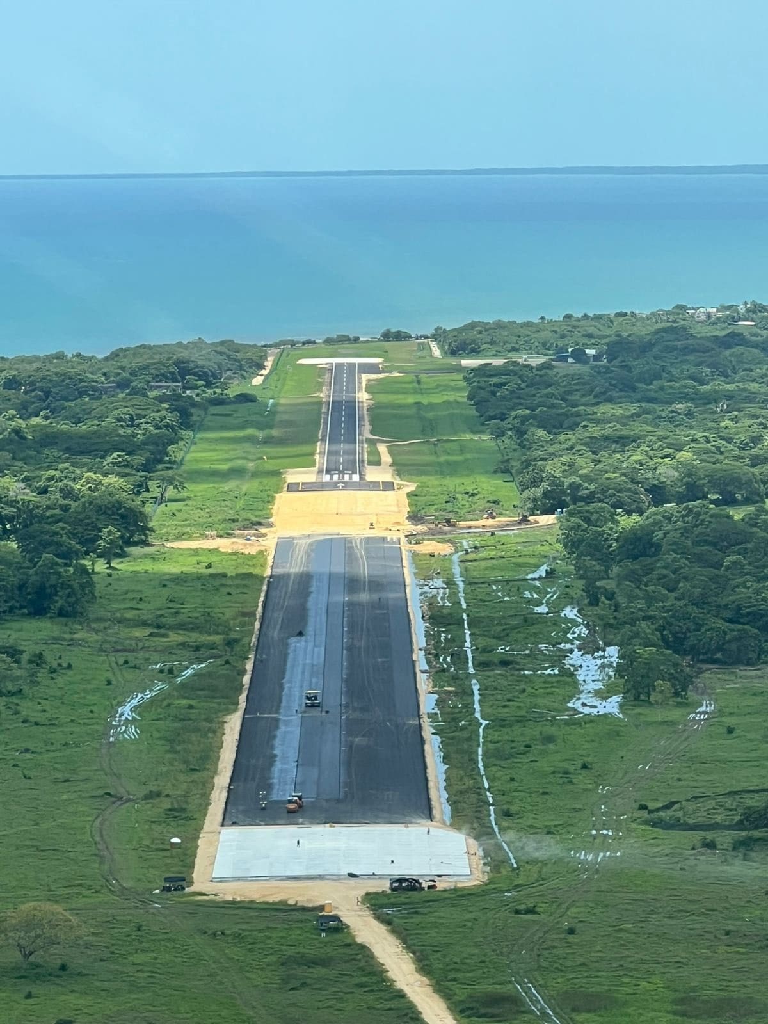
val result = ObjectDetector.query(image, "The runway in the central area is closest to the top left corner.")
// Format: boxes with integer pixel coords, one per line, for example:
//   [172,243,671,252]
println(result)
[325,363,363,480]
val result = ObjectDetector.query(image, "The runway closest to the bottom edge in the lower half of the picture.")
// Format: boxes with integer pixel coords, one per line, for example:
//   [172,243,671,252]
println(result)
[228,538,439,825]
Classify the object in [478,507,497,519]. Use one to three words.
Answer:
vehicle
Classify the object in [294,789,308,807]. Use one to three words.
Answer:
work vehicle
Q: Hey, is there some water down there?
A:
Yes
